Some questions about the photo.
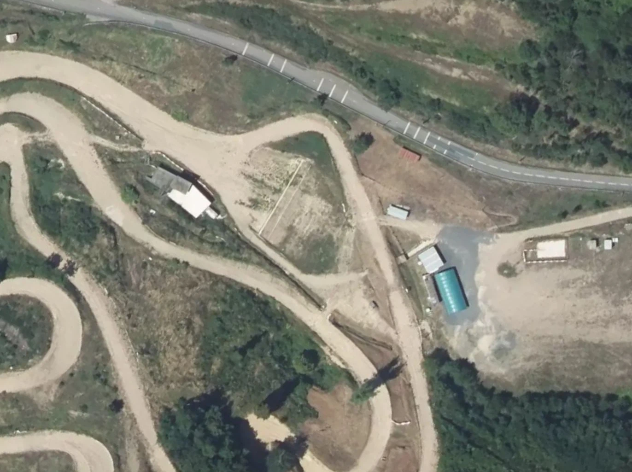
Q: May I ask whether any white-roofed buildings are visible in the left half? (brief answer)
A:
Yes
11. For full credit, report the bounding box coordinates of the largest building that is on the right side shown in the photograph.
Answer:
[435,268,469,314]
